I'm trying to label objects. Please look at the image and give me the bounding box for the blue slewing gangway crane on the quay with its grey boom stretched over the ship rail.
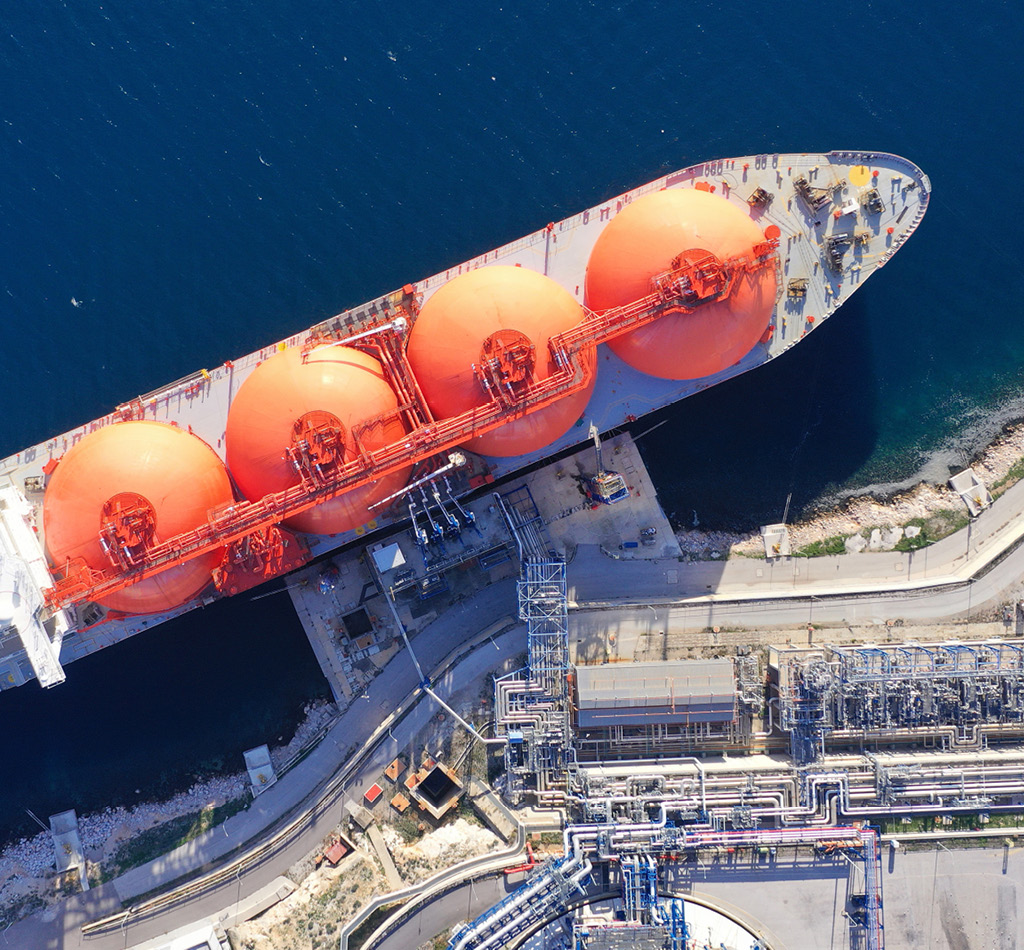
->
[589,420,629,502]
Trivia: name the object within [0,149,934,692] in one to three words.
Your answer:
ship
